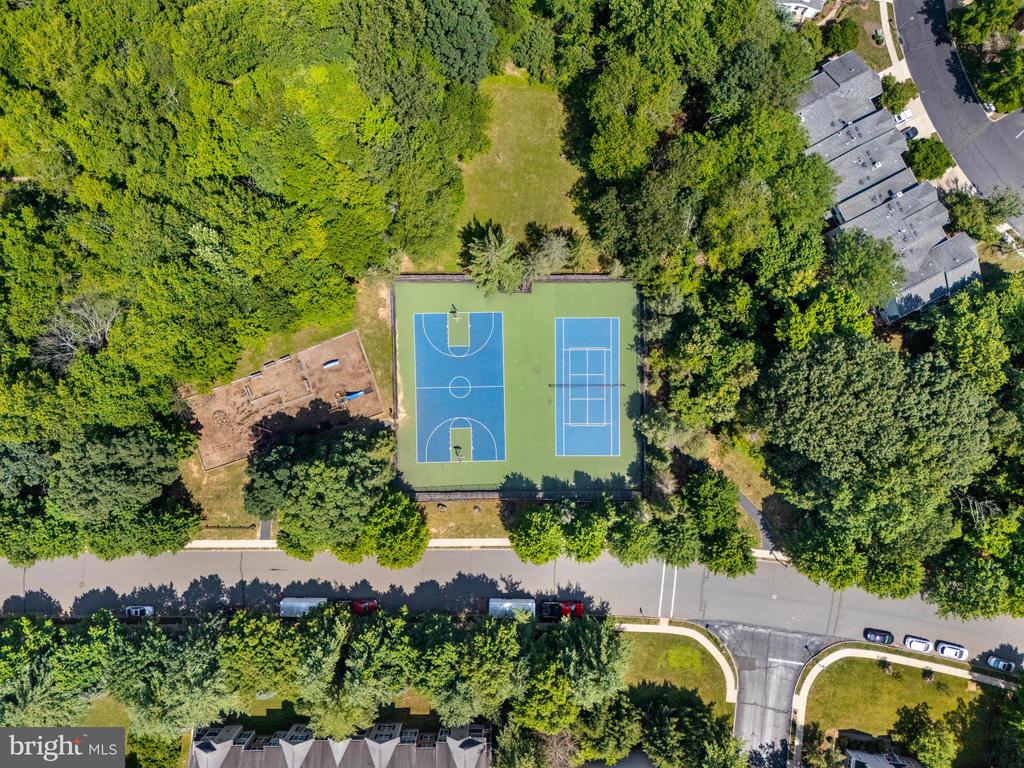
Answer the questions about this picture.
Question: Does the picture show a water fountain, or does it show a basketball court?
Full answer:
There is a basketball court in the scene.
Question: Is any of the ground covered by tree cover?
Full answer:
Yes, there is tree cover in the image.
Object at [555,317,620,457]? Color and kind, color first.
blue tennis court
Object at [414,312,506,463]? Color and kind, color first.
blue basketball court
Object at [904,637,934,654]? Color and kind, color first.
white car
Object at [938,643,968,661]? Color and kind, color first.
white car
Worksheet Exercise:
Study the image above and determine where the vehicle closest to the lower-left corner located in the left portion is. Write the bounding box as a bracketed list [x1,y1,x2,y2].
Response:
[123,605,152,619]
